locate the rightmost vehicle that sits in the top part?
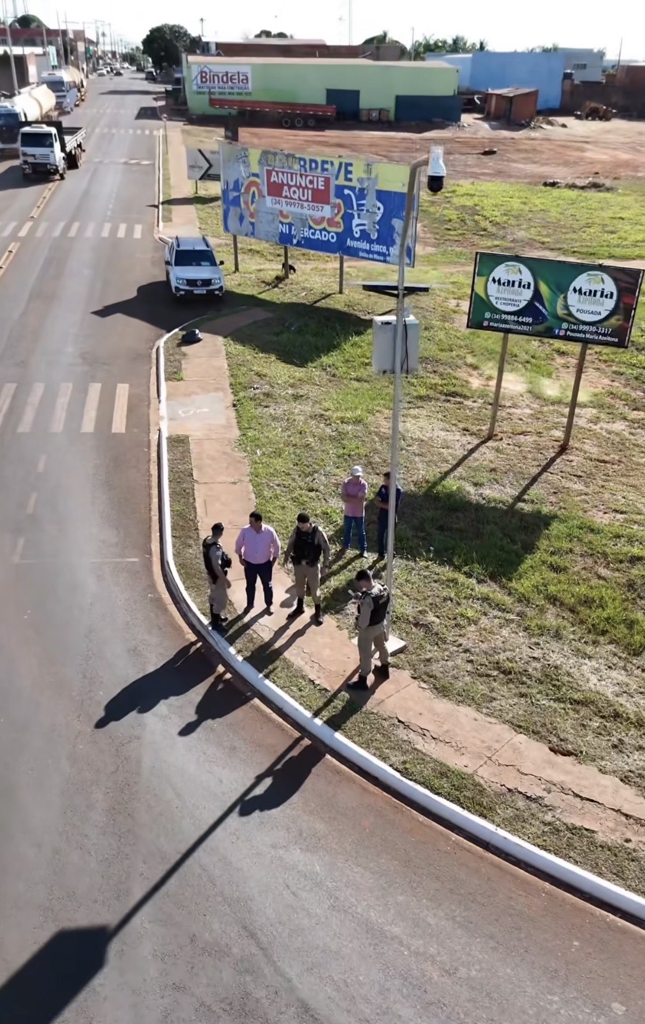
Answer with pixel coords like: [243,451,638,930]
[558,95,628,121]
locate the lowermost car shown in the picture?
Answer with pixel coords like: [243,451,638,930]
[157,229,226,299]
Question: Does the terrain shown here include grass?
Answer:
Yes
